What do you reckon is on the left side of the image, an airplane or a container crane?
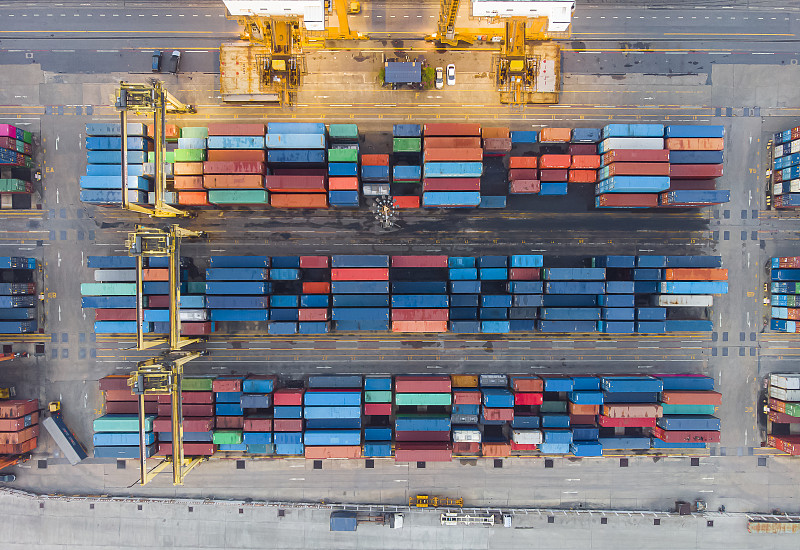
container crane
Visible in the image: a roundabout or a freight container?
freight container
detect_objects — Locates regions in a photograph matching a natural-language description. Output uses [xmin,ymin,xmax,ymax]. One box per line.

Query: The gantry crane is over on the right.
[424,0,576,110]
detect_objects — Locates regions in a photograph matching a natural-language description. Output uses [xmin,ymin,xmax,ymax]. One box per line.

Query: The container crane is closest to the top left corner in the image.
[111,74,200,213]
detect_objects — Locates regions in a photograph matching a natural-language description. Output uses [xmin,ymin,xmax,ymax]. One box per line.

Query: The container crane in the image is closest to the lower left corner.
[126,350,213,492]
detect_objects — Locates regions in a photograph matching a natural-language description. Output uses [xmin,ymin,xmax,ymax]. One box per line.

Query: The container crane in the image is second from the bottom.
[124,220,212,353]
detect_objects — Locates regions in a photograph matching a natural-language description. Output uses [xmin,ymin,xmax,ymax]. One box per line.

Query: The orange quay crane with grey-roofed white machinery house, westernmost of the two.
[220,0,366,110]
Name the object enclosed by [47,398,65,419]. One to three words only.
vehicle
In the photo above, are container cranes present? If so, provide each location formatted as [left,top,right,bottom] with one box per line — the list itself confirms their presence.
[111,74,200,213]
[424,0,576,110]
[126,350,213,492]
[124,220,212,353]
[220,0,366,110]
